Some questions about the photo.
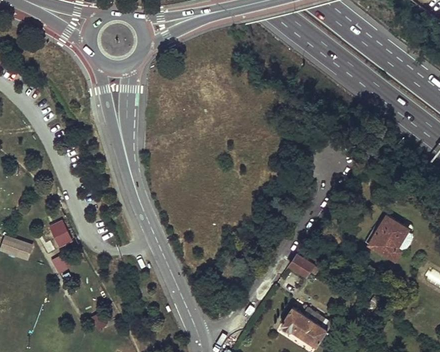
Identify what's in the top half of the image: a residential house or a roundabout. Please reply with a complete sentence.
What appears in the top half of the image is a roundabout.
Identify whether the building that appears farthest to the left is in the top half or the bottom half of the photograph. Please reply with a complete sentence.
The building that appears farthest to the left sits in the bottom half of the picture.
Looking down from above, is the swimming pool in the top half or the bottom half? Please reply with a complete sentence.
It is in the bottom half that the swimming pool appears.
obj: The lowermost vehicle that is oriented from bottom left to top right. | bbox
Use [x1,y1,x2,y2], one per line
[213,332,228,352]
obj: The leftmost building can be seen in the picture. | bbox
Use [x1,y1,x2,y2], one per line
[0,236,34,260]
